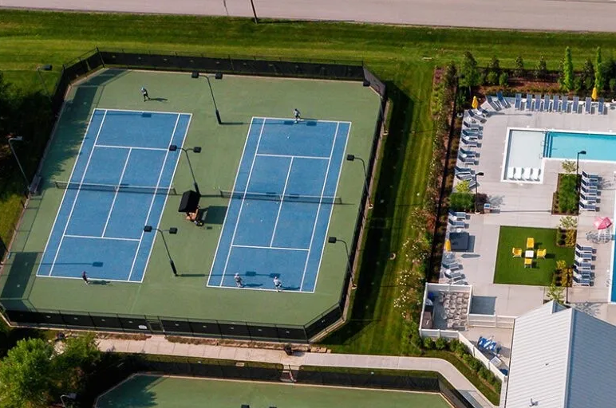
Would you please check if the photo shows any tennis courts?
Yes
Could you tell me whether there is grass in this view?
Yes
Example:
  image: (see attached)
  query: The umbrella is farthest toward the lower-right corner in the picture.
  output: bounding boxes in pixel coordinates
[593,215,616,241]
